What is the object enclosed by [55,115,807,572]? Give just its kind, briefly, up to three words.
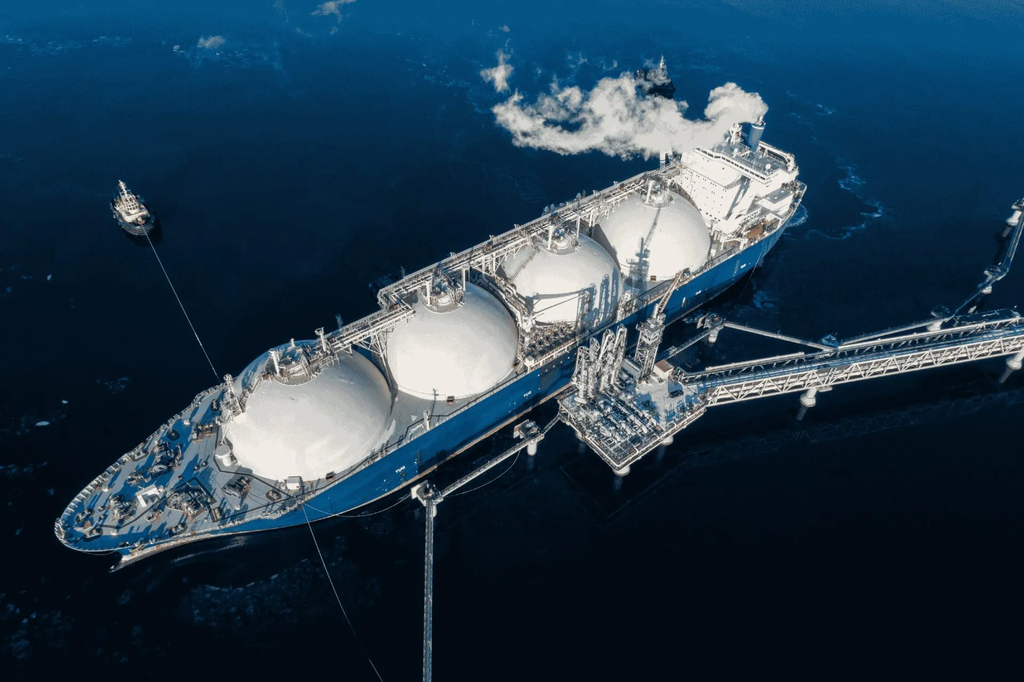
ship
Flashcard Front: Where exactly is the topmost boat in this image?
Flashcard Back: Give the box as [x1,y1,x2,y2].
[638,58,675,92]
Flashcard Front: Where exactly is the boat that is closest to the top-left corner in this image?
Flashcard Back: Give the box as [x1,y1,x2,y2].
[104,184,152,235]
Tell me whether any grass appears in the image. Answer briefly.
No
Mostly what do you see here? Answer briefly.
water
